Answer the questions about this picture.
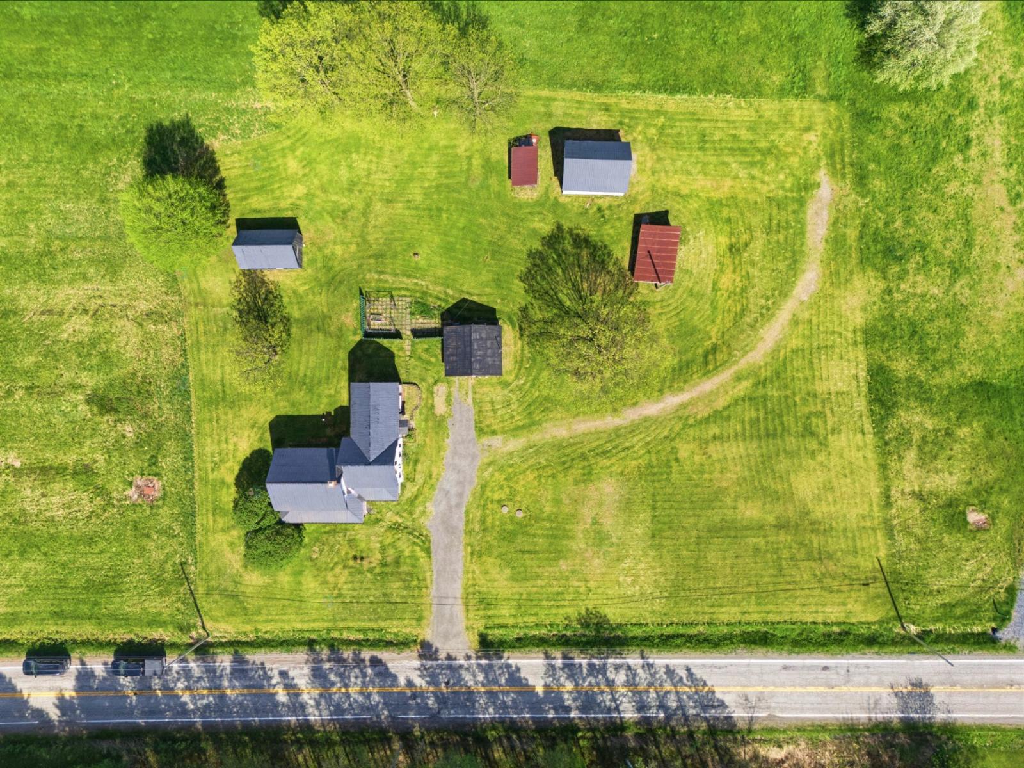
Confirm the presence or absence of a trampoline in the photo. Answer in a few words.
No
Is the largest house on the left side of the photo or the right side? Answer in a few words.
left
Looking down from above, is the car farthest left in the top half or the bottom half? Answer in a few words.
bottom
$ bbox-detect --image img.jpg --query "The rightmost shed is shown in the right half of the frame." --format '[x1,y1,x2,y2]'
[633,224,682,285]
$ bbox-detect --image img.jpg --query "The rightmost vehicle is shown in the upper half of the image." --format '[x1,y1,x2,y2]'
[529,130,541,145]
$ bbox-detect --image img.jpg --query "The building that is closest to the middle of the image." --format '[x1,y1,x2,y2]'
[442,326,501,377]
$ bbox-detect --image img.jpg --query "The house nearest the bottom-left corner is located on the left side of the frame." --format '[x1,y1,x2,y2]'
[266,383,418,523]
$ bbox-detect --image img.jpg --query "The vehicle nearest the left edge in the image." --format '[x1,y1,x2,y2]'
[25,655,70,678]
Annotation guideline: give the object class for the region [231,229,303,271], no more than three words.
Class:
shed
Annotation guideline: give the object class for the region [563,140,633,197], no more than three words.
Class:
barn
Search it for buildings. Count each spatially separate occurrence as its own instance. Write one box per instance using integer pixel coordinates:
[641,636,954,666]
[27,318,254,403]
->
[511,145,538,189]
[563,140,633,197]
[266,383,418,523]
[442,326,501,377]
[633,224,682,285]
[231,229,303,271]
